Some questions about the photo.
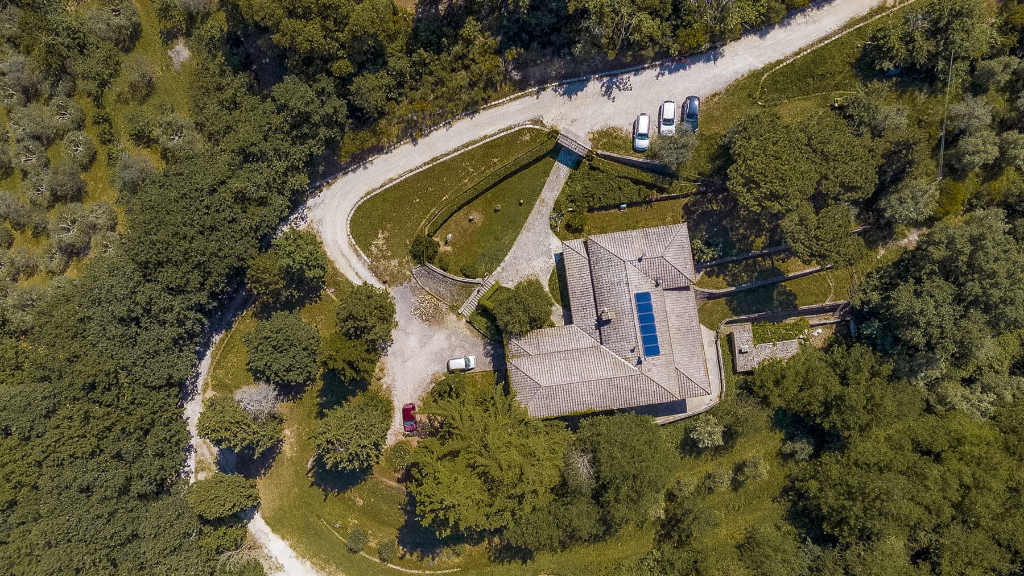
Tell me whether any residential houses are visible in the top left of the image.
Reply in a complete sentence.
No, no residential house can be made out in the top left of the image.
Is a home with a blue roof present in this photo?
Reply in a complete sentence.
No, there isn't any home with a blue roof down there.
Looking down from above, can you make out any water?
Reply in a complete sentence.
No, there is no water in the image.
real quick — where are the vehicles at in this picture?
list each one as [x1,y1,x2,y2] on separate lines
[402,402,417,432]
[631,113,649,153]
[680,95,699,134]
[447,355,476,371]
[658,100,676,137]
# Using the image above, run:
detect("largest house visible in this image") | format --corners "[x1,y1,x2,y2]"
[504,221,712,422]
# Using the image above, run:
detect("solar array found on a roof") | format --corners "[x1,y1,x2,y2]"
[632,291,660,361]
